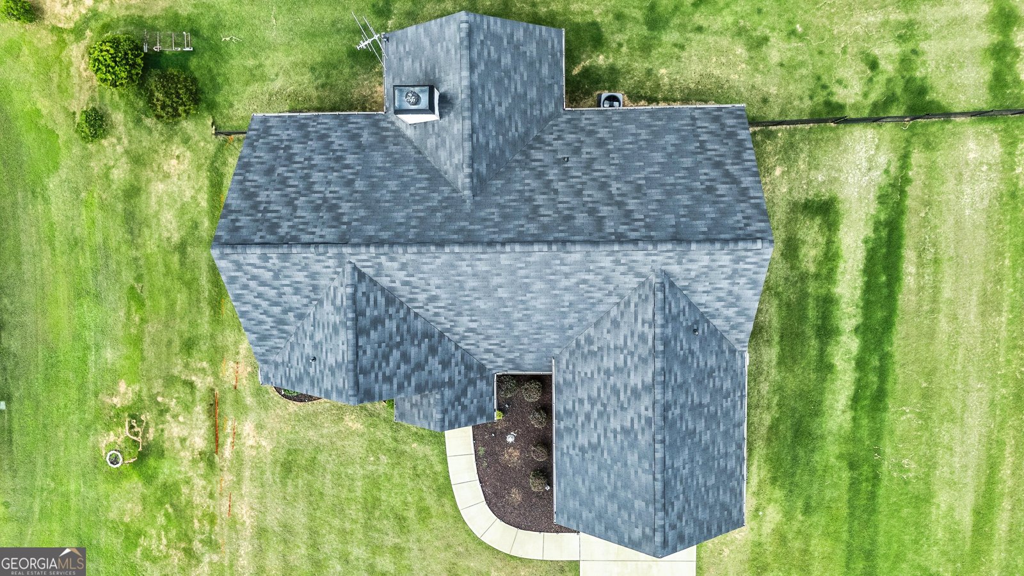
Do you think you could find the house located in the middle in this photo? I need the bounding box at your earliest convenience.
[214,11,773,556]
